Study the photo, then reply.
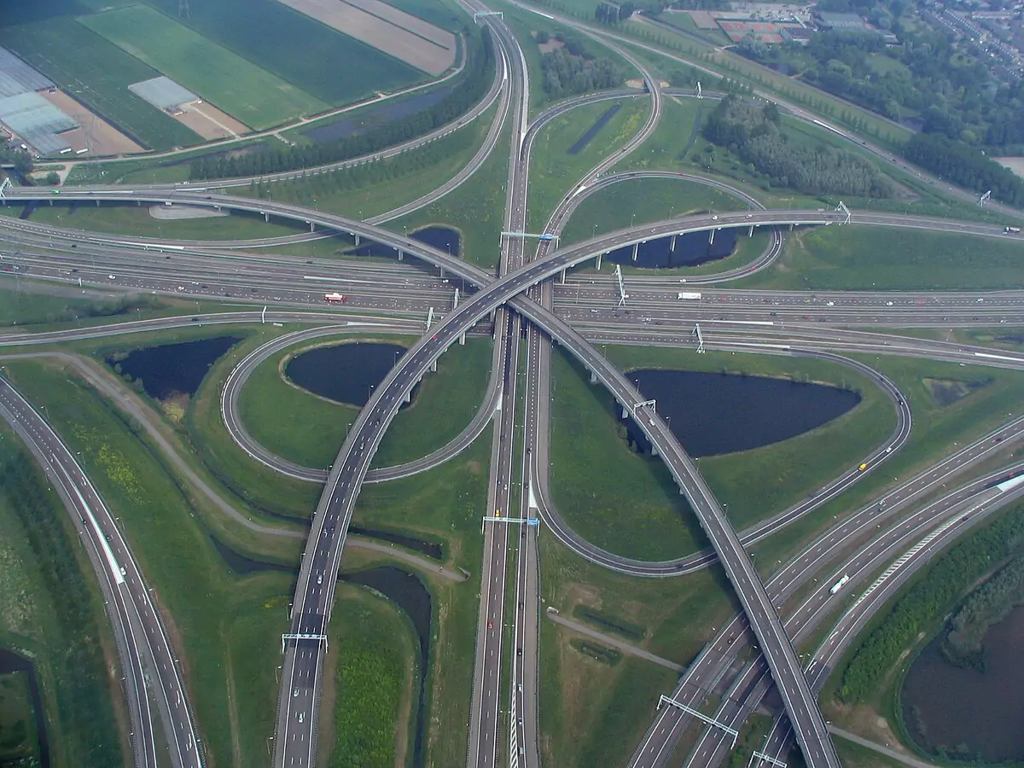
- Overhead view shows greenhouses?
Yes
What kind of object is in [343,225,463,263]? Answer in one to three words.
pond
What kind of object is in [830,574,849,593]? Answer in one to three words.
vehicle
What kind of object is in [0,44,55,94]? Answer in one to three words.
greenhouse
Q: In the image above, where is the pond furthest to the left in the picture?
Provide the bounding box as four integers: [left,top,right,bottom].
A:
[108,335,242,399]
